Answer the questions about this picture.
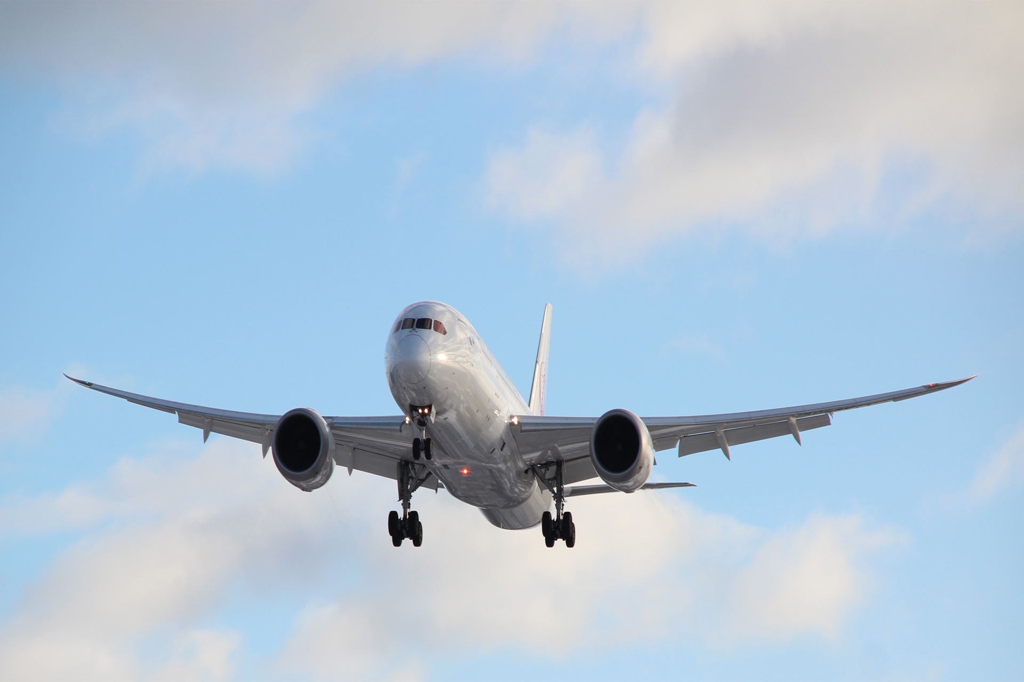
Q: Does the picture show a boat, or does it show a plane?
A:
plane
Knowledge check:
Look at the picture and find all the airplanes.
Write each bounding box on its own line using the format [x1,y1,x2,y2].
[62,300,977,547]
